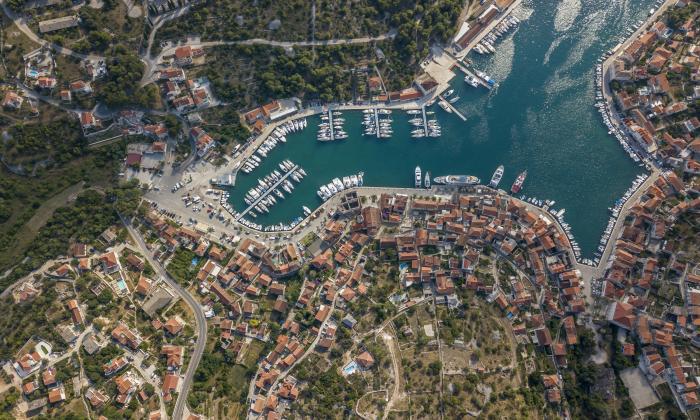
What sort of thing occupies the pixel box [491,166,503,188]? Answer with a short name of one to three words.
ship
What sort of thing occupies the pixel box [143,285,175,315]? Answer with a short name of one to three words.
house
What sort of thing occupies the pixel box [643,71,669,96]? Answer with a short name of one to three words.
house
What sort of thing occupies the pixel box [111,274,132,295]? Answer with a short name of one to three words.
swimming pool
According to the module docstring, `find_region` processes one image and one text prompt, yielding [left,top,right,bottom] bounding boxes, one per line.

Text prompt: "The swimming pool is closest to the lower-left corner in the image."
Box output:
[34,341,53,359]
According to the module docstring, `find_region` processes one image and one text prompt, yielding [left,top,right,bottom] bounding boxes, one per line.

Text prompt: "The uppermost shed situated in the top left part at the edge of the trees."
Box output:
[39,15,81,34]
